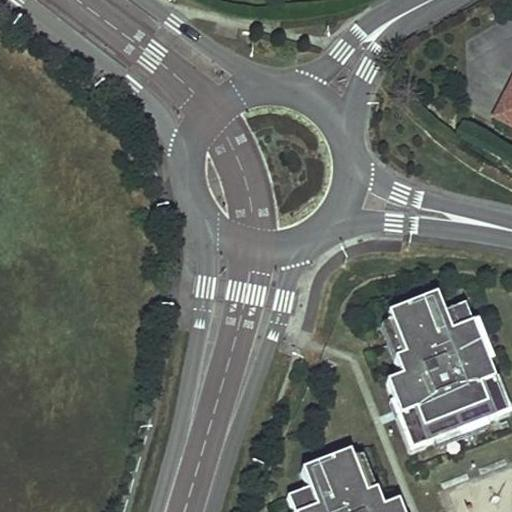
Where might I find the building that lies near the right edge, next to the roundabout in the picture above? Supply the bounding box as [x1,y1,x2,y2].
[380,288,512,454]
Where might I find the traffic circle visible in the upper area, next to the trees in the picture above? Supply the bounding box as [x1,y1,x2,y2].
[165,51,384,290]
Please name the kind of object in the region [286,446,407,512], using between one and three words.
building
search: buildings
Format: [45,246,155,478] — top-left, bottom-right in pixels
[286,446,407,512]
[492,74,512,126]
[380,288,512,454]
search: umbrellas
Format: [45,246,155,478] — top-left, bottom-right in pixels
[446,440,462,455]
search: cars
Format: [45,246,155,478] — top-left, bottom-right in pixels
[180,24,202,42]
